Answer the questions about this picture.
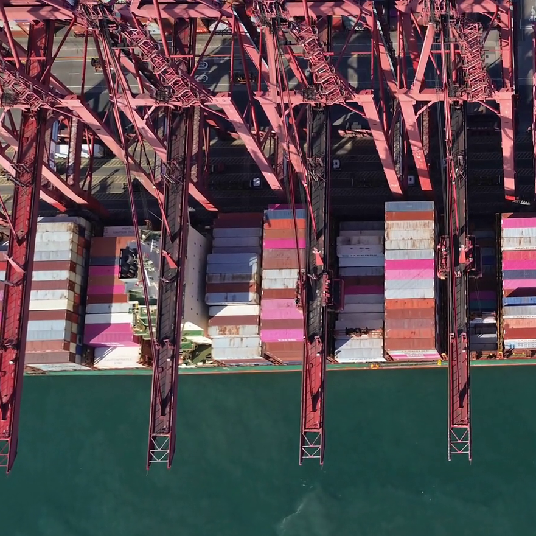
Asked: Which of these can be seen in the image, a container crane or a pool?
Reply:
container crane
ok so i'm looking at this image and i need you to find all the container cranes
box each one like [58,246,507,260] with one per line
[0,114,96,222]
[0,0,201,470]
[398,0,530,463]
[95,0,309,468]
[257,0,412,465]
